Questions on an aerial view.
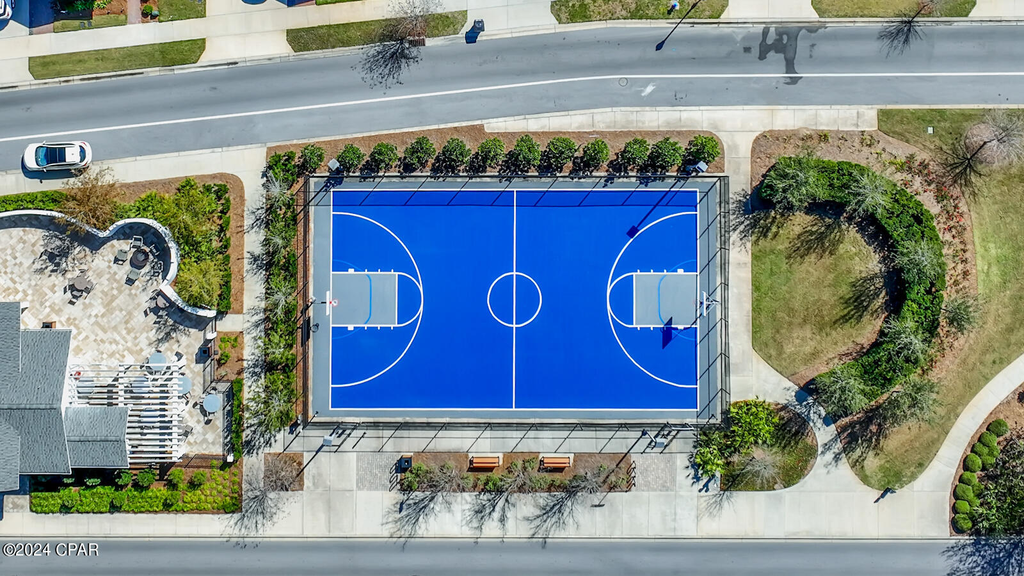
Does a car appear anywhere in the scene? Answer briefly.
Yes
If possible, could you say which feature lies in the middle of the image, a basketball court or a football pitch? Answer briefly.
basketball court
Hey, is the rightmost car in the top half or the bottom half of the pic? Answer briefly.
top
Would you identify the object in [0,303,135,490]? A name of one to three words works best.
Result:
building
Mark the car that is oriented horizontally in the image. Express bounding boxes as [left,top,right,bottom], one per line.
[24,140,95,173]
